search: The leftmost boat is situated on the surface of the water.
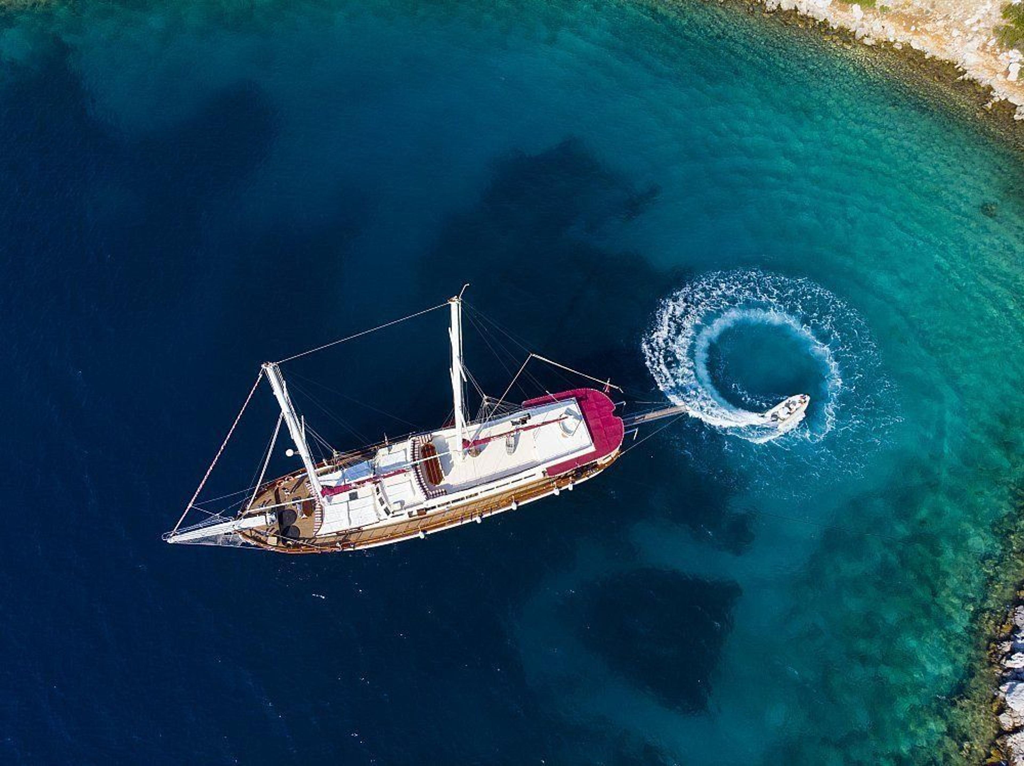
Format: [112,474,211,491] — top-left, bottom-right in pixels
[158,283,688,554]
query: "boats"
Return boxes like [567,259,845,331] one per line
[761,395,810,430]
[158,283,688,554]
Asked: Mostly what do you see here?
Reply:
water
